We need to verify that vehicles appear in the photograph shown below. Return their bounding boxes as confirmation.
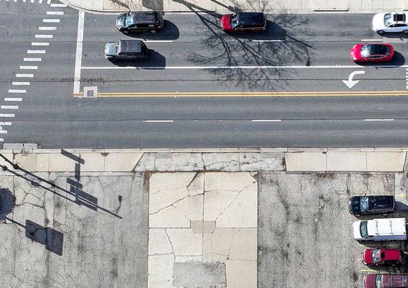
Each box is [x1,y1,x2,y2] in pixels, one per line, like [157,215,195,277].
[362,248,404,267]
[221,11,267,35]
[372,11,408,35]
[105,40,148,62]
[349,195,395,217]
[364,273,408,288]
[118,11,164,35]
[350,42,394,64]
[354,219,408,241]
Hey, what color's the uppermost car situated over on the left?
black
